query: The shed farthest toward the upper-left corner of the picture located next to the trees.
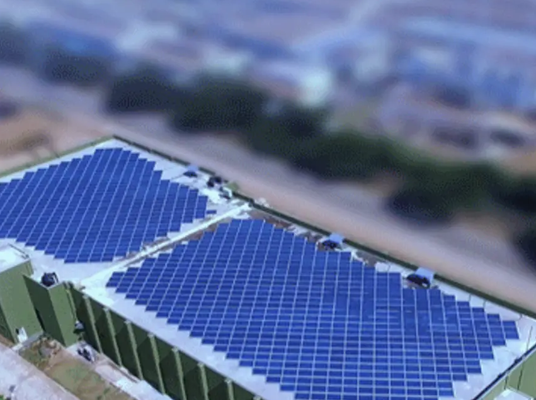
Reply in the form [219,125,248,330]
[35,19,131,60]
